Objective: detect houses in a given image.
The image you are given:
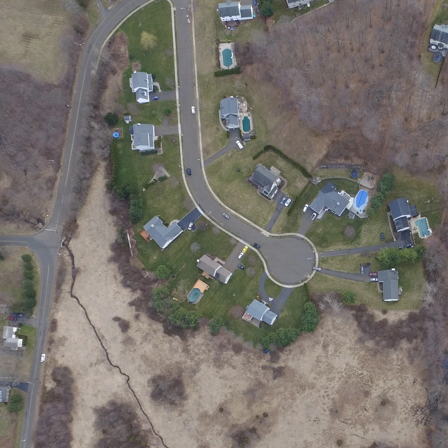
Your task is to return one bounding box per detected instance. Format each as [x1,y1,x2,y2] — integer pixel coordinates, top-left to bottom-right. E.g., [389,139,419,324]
[2,327,21,350]
[218,0,253,28]
[310,182,354,216]
[429,24,448,57]
[389,198,418,231]
[141,215,184,249]
[129,70,155,101]
[129,122,157,151]
[196,254,233,283]
[250,164,281,199]
[243,298,276,325]
[219,95,240,127]
[0,386,13,402]
[378,268,398,299]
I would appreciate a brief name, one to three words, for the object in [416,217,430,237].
swimming pool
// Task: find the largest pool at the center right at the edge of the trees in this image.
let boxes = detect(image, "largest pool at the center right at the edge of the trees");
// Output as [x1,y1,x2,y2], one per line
[353,189,369,214]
